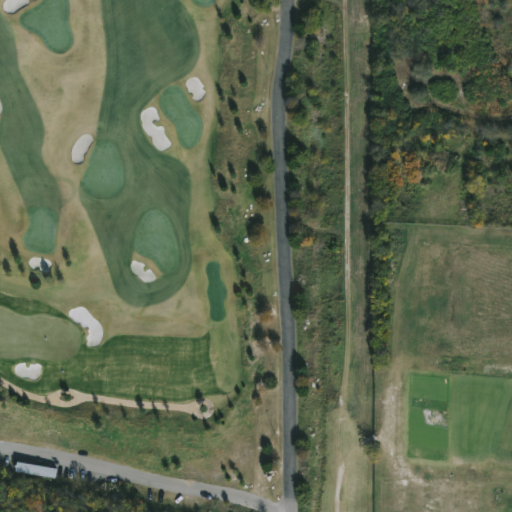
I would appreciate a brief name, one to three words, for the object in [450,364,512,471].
sports field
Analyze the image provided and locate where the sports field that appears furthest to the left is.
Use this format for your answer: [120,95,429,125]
[401,367,464,470]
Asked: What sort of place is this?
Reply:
golf course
